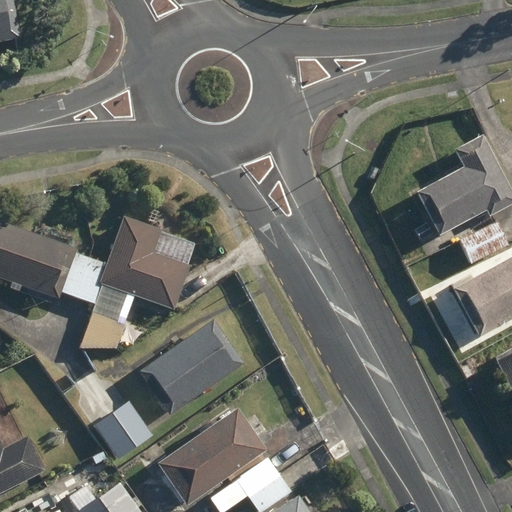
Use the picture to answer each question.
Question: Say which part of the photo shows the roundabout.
top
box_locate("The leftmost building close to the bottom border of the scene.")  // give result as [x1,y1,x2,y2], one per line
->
[0,436,46,495]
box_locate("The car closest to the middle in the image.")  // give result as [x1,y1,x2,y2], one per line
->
[180,274,210,299]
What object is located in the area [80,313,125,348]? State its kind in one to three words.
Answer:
building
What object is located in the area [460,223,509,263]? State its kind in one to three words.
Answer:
shed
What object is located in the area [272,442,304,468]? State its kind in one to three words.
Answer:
car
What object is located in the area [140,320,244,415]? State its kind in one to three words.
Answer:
house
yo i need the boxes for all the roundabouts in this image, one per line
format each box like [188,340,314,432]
[174,46,254,126]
